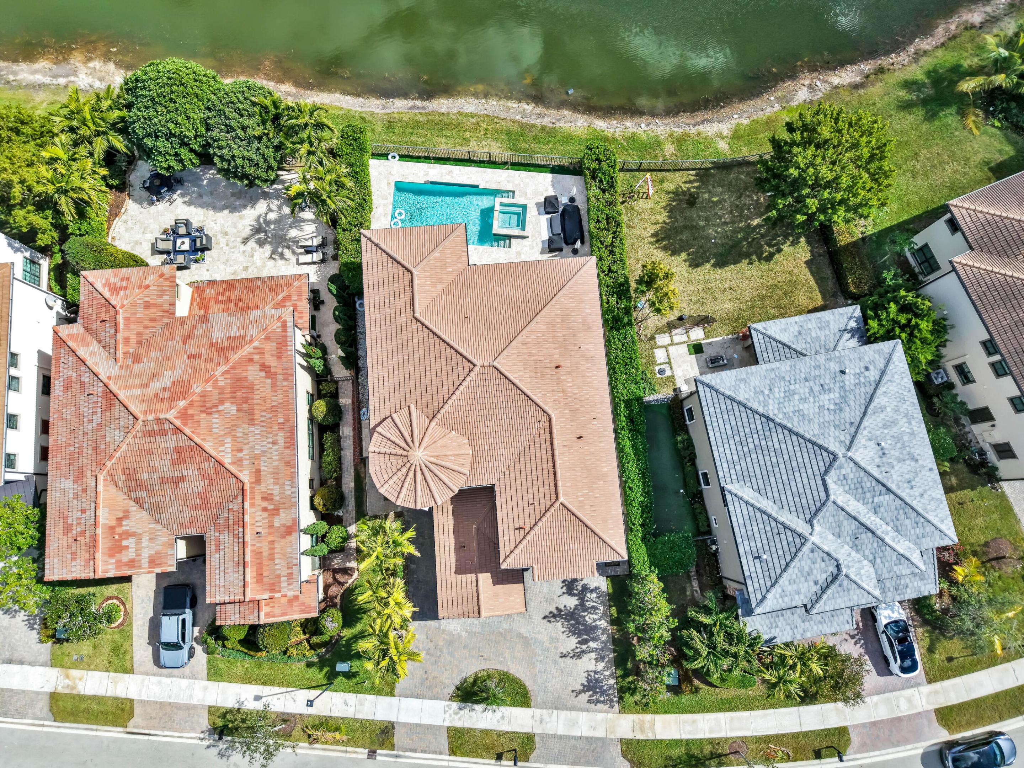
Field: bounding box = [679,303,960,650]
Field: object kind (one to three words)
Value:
house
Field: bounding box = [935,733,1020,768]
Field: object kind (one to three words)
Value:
car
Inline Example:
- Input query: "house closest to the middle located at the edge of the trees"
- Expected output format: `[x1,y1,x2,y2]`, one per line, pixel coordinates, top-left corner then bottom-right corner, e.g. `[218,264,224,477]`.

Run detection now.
[359,221,628,618]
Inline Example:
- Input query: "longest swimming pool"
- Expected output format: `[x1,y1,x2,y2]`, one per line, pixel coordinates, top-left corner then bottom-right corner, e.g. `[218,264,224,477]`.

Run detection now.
[386,177,515,251]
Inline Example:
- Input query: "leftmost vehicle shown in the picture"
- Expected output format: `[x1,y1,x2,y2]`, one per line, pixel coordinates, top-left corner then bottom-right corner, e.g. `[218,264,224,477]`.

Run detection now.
[155,583,199,669]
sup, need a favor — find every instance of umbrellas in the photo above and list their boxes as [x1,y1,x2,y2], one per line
[570,239,581,256]
[568,185,578,205]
